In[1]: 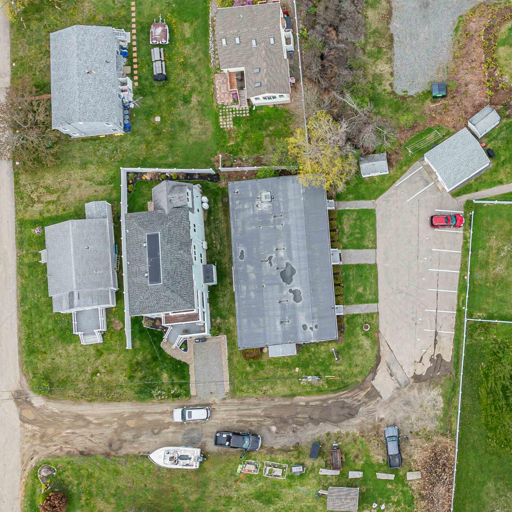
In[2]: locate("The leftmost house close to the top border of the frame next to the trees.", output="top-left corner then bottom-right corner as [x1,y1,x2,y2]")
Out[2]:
[51,25,137,133]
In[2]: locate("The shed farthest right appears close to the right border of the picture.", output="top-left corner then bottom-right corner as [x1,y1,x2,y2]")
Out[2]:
[468,105,500,138]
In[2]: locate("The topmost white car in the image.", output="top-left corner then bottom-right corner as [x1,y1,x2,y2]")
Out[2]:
[173,405,213,423]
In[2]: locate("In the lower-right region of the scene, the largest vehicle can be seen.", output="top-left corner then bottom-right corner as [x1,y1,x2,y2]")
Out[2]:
[383,425,404,469]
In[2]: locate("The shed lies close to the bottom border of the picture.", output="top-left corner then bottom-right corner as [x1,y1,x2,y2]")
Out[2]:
[318,486,359,512]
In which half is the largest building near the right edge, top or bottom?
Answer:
top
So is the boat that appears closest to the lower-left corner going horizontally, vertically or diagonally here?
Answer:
horizontally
